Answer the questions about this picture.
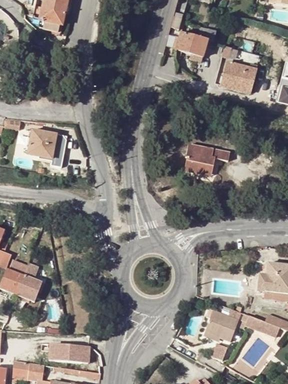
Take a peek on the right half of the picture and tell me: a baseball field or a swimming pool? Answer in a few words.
swimming pool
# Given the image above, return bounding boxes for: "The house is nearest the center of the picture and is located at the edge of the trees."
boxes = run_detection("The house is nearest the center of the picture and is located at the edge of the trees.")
[184,144,230,176]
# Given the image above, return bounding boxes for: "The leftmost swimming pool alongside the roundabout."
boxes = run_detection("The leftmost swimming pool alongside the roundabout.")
[184,315,204,337]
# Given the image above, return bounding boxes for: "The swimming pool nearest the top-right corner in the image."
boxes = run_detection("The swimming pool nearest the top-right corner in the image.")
[266,8,288,26]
